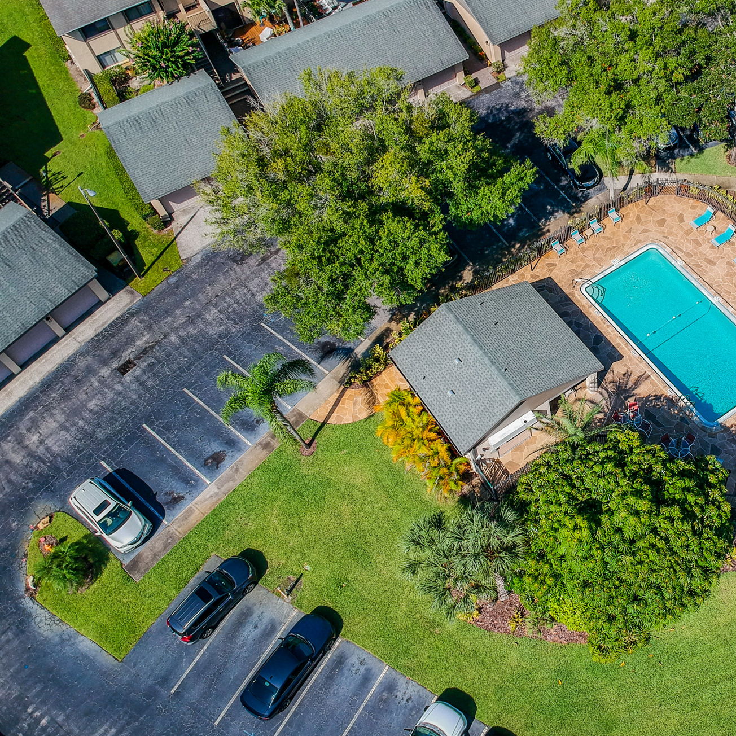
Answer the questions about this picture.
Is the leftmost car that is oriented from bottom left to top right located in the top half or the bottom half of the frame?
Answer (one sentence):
You can find the leftmost car that is oriented from bottom left to top right in the bottom half.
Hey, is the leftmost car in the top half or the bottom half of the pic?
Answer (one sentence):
The leftmost car sits in the bottom half of the picture.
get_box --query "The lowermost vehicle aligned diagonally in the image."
[245,613,341,722]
